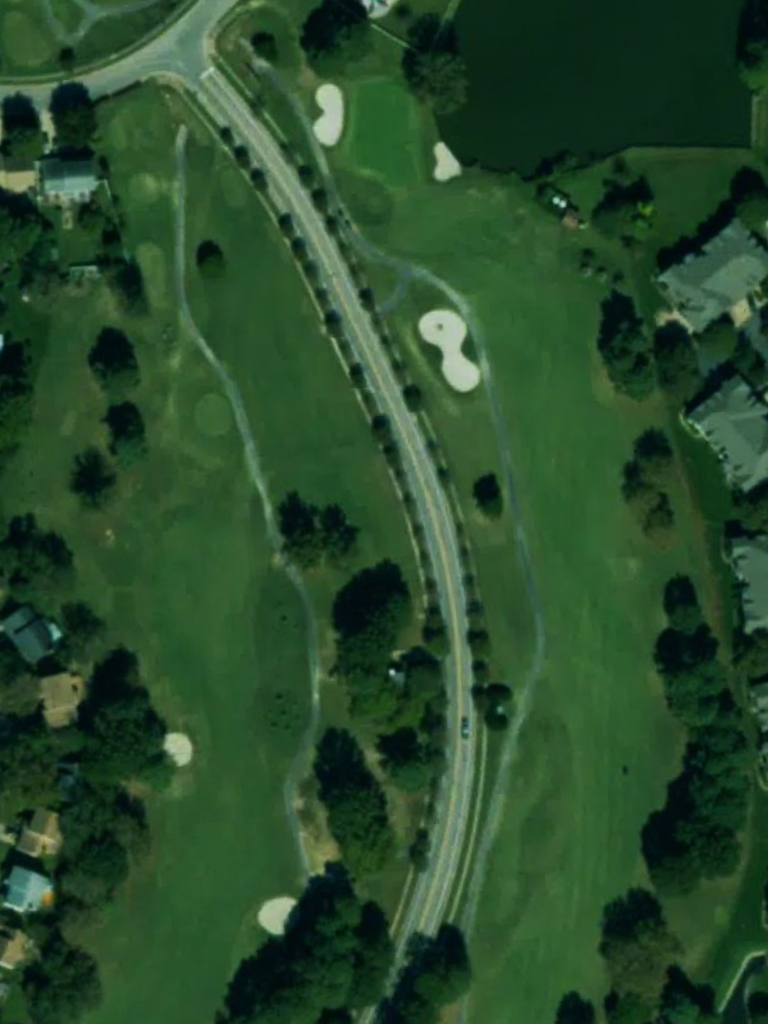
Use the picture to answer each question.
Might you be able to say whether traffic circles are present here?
No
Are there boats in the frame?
No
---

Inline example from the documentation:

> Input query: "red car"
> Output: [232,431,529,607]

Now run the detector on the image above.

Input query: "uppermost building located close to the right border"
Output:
[660,219,768,327]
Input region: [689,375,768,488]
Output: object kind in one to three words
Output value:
house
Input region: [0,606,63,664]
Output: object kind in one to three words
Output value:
house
